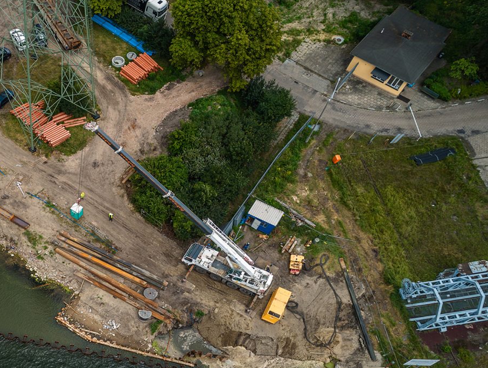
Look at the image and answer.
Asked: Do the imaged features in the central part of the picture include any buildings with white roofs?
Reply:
Yes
